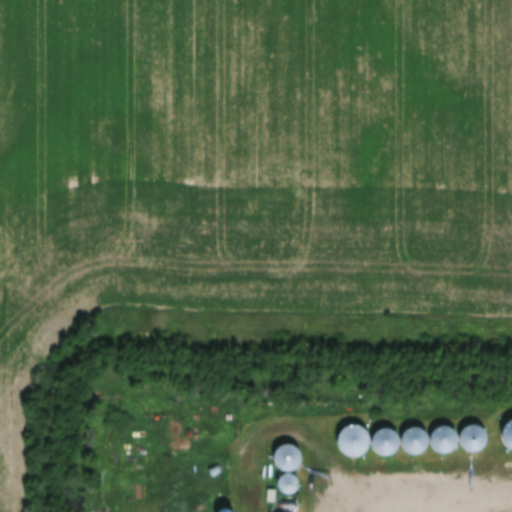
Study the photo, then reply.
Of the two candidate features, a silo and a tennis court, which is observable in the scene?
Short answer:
silo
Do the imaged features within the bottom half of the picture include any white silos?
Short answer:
Yes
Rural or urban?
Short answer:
rural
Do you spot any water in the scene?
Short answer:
No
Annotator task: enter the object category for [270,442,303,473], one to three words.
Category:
silo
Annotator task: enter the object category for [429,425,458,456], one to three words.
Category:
silo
